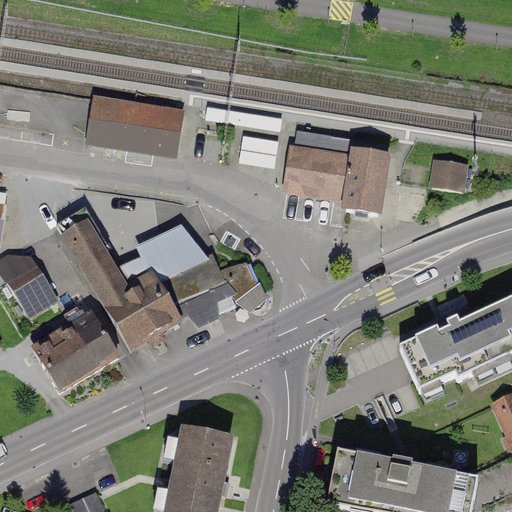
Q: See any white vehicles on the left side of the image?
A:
Yes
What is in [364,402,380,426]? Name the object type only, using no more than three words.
car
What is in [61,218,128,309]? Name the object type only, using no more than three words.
house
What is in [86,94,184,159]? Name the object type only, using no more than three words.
shed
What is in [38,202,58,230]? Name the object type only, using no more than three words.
vehicle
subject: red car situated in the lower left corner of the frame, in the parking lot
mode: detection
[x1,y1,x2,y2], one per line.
[24,494,48,510]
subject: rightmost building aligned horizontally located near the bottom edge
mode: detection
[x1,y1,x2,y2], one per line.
[326,446,481,512]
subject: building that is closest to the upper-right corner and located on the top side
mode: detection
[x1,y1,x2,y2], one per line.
[428,160,469,194]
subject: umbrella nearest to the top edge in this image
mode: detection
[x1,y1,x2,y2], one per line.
[236,308,250,322]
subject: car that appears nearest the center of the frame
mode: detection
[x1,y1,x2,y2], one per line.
[242,236,262,258]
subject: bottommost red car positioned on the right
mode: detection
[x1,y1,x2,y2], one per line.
[314,446,326,469]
